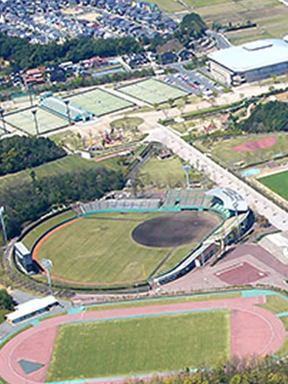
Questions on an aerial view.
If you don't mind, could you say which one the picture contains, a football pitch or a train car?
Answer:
football pitch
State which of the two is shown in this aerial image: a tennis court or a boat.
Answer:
tennis court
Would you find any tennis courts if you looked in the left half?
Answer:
Yes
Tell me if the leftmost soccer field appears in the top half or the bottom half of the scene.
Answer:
bottom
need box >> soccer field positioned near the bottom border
[46,308,232,381]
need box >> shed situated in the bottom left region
[5,295,58,328]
